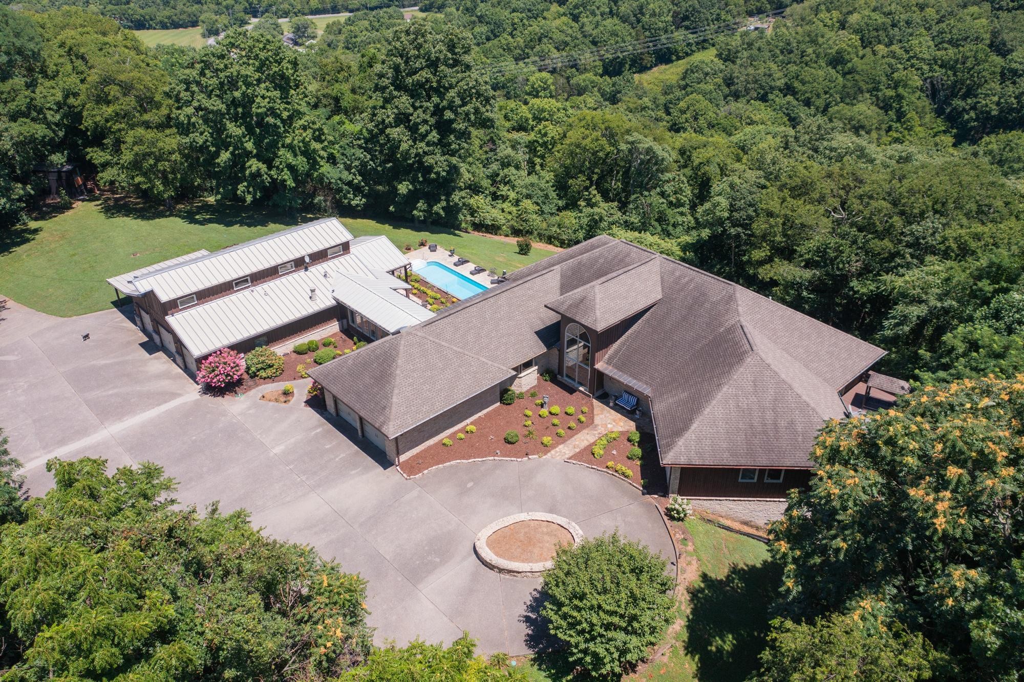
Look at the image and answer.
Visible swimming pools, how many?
1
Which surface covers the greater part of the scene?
trees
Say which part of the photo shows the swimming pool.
center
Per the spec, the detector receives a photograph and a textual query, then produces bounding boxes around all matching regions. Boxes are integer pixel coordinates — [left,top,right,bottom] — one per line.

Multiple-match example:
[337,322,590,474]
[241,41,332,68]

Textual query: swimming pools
[408,251,492,299]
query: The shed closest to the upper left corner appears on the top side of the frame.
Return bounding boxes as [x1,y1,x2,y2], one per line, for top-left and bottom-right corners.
[14,161,91,203]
